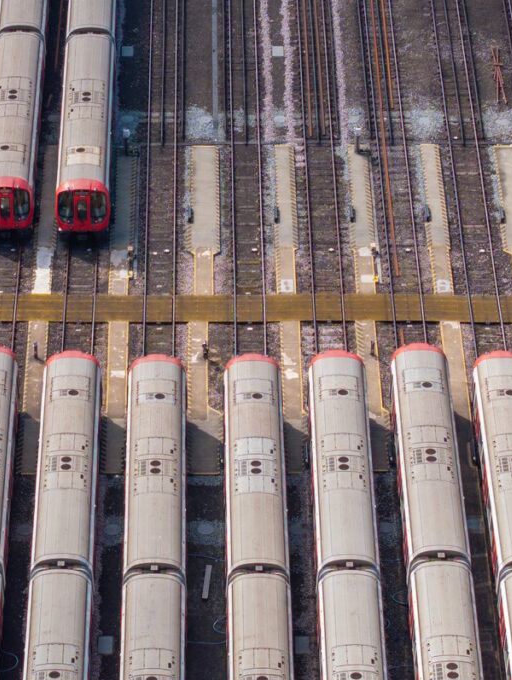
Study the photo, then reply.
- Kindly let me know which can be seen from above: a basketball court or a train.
train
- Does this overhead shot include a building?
No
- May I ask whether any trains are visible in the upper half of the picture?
Yes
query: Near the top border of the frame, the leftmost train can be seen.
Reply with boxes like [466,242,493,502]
[0,0,51,241]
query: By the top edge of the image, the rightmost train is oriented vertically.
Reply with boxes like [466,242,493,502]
[55,0,119,244]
